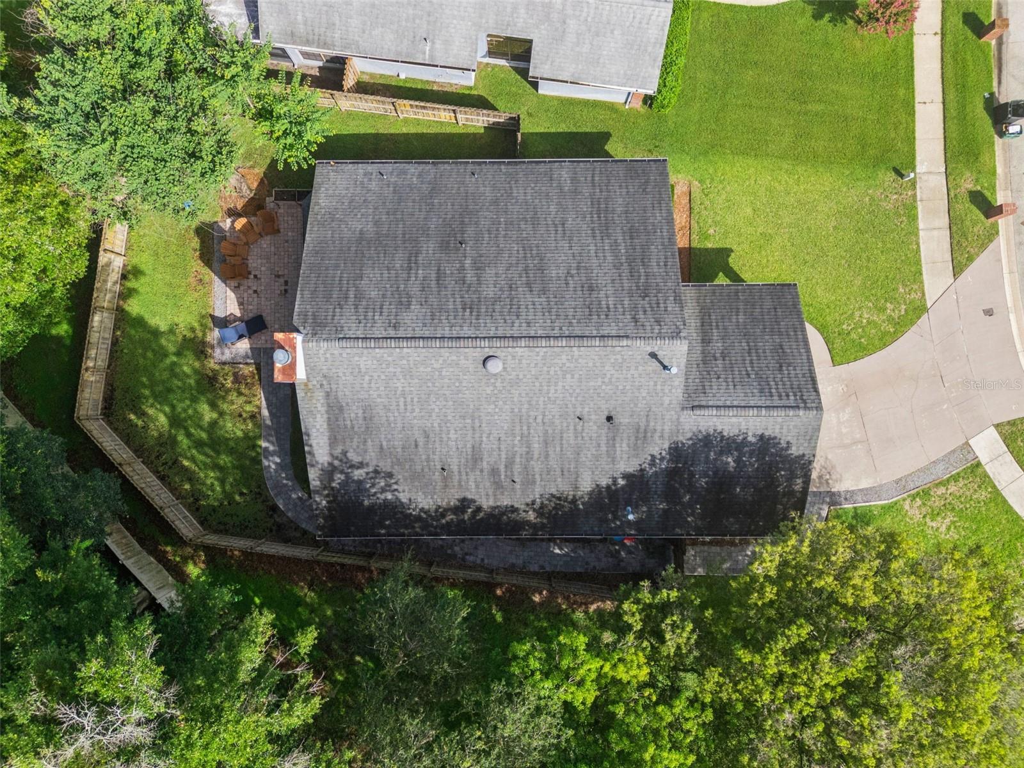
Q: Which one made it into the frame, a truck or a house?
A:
house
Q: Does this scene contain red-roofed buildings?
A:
No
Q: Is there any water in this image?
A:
No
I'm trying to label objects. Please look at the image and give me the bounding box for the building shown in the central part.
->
[274,155,822,540]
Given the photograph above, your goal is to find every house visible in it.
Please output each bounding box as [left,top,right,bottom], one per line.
[274,155,822,540]
[197,0,674,108]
